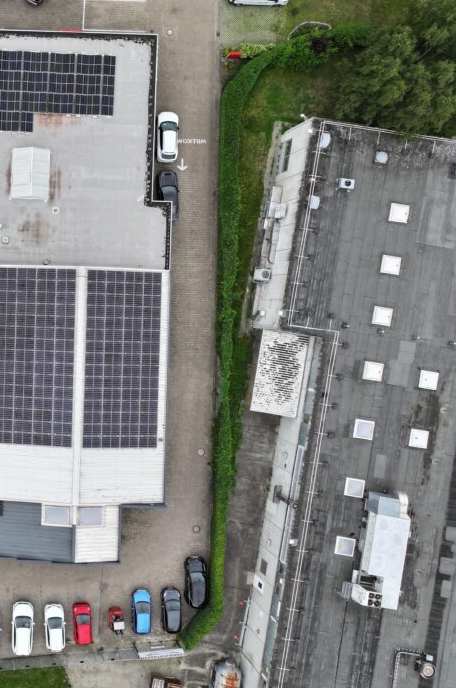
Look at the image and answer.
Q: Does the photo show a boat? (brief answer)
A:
No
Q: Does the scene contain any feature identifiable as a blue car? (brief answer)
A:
Yes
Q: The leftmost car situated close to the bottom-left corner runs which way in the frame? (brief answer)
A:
up and down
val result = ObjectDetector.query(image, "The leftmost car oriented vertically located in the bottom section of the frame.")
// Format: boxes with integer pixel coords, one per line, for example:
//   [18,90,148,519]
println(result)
[10,600,36,659]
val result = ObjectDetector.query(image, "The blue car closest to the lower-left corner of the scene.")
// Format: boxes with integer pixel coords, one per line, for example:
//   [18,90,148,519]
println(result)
[130,587,154,635]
